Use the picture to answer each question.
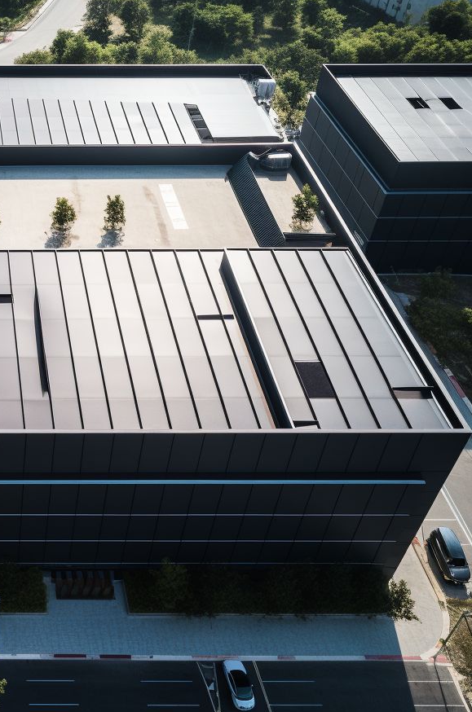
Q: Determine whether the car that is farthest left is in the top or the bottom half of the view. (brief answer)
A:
bottom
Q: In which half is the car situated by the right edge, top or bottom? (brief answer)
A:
bottom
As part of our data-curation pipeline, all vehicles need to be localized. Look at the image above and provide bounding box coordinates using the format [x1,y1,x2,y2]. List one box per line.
[420,531,470,588]
[218,661,257,712]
